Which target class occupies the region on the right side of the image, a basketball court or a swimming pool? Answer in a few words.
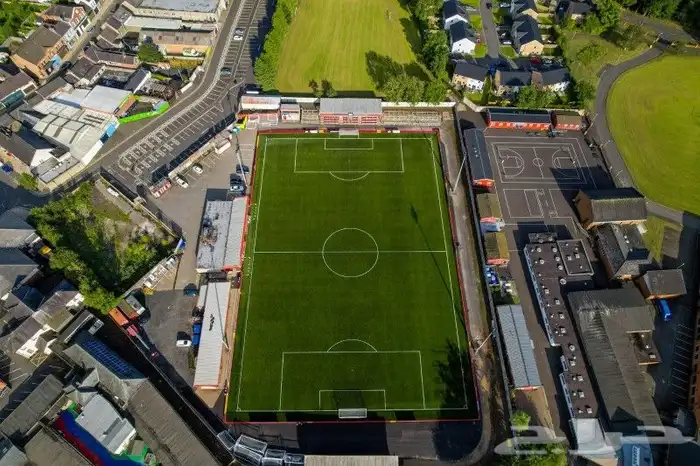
basketball court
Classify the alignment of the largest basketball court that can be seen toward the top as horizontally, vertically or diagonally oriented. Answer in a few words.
horizontally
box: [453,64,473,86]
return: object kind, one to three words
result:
house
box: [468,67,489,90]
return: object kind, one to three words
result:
house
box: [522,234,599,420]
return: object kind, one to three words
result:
building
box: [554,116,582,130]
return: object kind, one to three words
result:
building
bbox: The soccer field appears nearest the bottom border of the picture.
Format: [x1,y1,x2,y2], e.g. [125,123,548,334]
[226,135,480,422]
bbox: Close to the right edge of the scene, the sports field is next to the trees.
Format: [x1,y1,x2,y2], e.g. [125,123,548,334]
[608,54,700,215]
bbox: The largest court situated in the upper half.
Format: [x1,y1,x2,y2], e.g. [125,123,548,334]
[488,137,597,191]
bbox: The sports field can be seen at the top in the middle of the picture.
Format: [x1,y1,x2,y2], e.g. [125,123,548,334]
[265,0,439,98]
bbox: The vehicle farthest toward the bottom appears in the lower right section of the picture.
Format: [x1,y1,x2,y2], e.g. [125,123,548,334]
[673,407,686,424]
